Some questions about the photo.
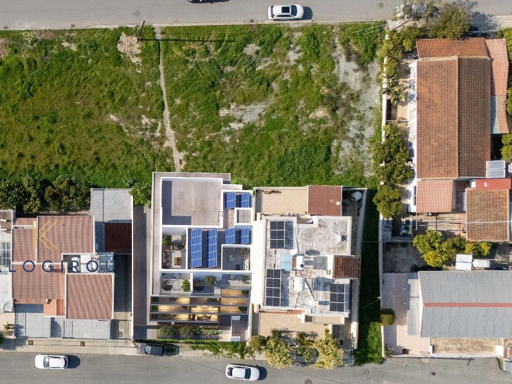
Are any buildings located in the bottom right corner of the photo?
Yes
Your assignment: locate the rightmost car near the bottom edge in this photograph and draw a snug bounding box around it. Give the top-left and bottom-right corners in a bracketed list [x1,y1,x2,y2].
[225,364,260,382]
